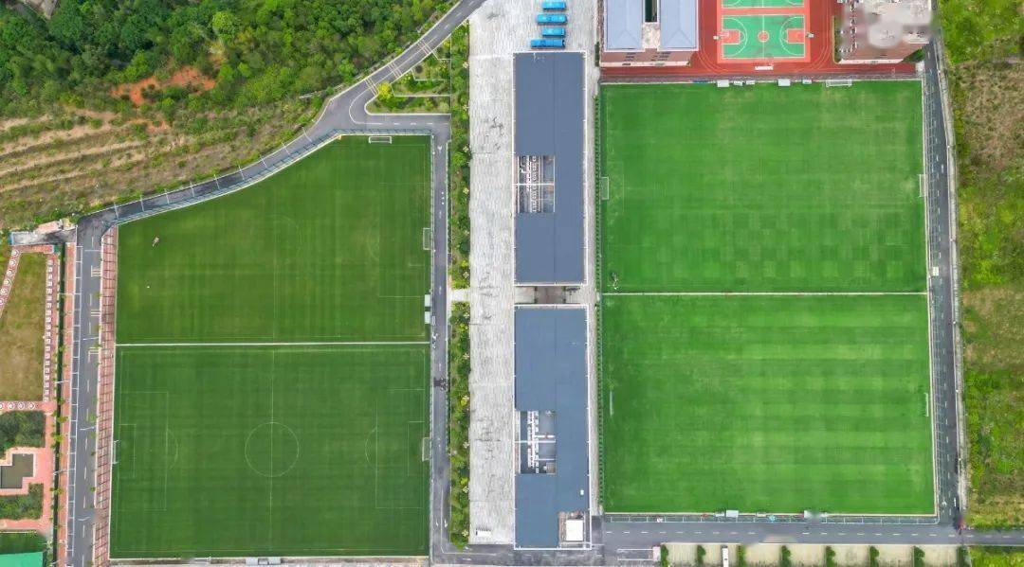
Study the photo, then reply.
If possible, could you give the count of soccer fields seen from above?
4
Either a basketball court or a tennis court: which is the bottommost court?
basketball court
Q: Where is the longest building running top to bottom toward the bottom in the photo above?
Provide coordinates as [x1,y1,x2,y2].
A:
[515,306,590,550]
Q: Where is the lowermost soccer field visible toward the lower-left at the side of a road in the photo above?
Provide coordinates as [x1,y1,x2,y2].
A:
[109,343,430,559]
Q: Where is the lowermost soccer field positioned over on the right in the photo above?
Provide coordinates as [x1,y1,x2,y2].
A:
[604,294,936,517]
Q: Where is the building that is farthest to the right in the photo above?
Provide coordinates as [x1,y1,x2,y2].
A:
[840,0,932,66]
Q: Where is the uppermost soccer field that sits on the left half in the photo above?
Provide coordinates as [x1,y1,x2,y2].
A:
[115,134,430,346]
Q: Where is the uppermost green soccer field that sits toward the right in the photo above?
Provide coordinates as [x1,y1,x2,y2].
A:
[603,79,929,295]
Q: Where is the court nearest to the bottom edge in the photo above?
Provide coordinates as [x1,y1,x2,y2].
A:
[717,11,810,63]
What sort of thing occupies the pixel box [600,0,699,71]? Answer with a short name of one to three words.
building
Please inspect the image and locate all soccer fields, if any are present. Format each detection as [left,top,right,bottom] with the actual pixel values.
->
[109,343,430,559]
[603,79,929,295]
[115,134,430,346]
[604,294,936,517]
